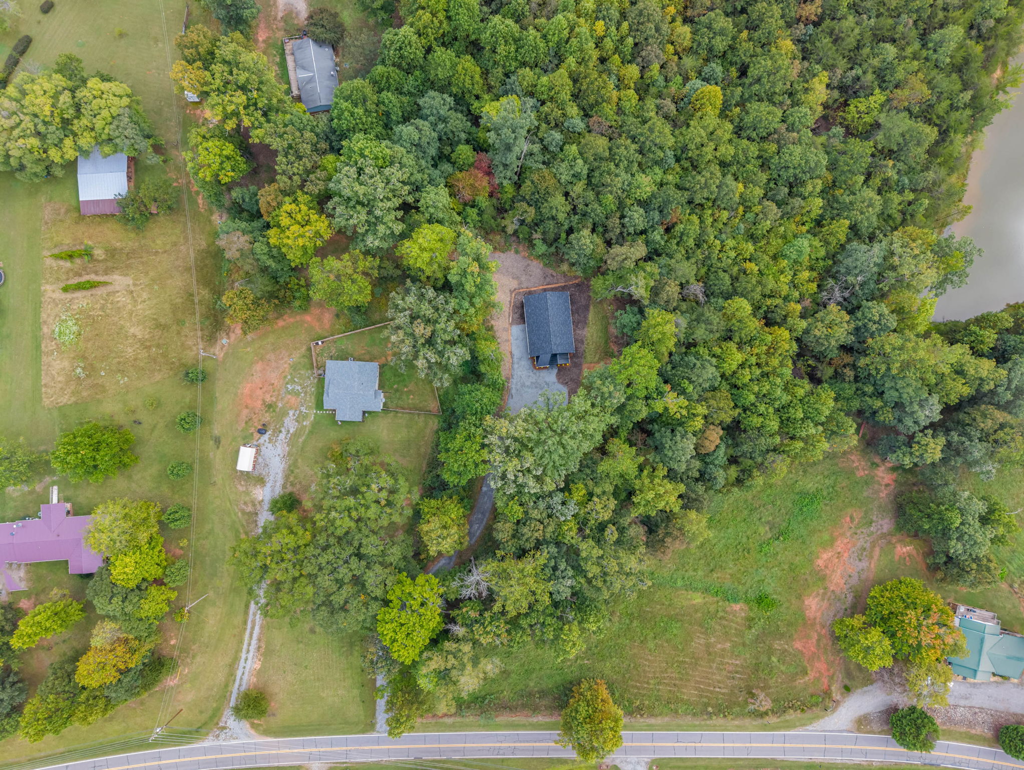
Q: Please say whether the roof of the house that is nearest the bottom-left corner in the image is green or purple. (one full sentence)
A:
In this view, the roof of the house that is nearest the bottom-left corner is purple.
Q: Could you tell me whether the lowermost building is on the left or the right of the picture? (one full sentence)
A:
The lowermost building is on the right side of the image.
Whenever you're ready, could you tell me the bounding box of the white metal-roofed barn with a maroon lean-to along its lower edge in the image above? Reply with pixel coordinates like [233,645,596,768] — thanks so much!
[76,152,136,216]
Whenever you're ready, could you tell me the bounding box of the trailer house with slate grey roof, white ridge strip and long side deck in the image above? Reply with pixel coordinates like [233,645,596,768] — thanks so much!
[282,34,341,113]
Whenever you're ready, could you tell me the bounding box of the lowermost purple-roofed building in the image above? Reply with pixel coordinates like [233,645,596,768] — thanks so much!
[0,502,108,592]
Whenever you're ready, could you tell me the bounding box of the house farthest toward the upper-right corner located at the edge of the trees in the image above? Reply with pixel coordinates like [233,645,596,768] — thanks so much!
[523,291,575,368]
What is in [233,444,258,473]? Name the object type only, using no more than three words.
shed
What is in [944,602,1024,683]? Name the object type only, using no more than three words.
building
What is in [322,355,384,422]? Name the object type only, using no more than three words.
house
